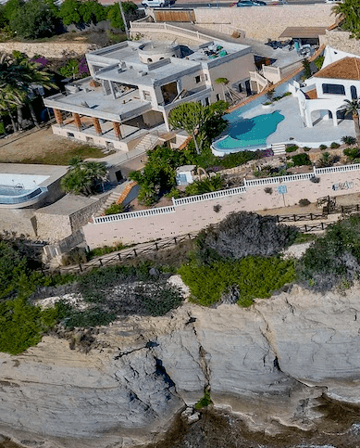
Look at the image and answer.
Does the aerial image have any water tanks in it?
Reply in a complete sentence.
No, the picture doesn't show any water tank.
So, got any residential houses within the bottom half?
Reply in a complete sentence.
No, within the bottom half there is no residential house.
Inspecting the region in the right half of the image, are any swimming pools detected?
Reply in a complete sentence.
Yes, looking in the right half of the image, one can make out a swimming pool.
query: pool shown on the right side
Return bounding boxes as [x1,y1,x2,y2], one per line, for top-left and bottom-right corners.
[216,107,288,153]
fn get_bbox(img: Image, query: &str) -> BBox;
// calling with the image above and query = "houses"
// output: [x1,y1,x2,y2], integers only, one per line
[297,38,360,130]
[31,35,267,163]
